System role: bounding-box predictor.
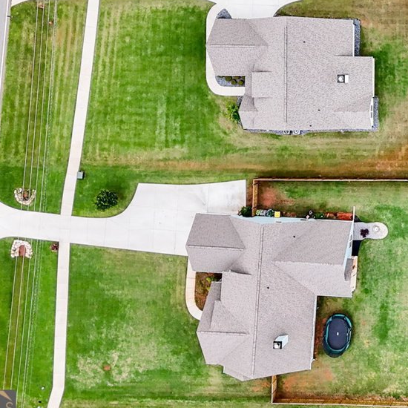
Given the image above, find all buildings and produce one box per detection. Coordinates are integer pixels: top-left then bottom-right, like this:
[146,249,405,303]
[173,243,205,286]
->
[185,213,367,385]
[207,17,376,130]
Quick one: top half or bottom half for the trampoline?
bottom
